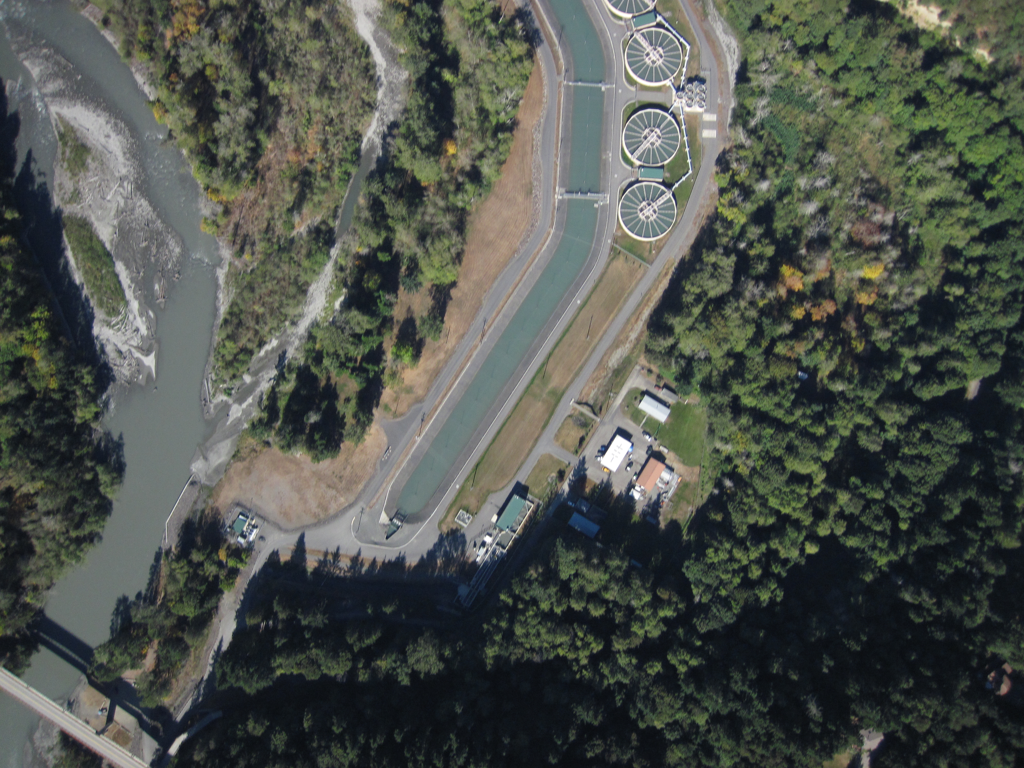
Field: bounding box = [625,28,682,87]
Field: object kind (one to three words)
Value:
storage tank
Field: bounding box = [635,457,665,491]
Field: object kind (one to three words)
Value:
building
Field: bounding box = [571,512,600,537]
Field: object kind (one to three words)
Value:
house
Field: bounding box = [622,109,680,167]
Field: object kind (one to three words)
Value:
storage tank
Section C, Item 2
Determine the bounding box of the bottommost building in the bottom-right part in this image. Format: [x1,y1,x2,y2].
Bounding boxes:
[857,723,881,741]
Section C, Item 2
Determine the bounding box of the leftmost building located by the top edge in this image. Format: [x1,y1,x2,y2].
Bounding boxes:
[631,11,656,32]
